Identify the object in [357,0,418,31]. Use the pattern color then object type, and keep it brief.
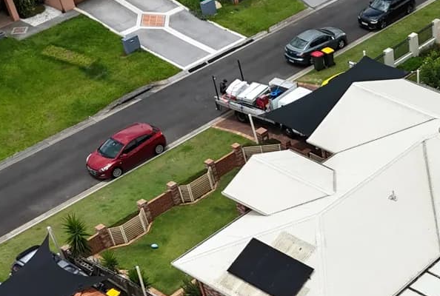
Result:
black car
